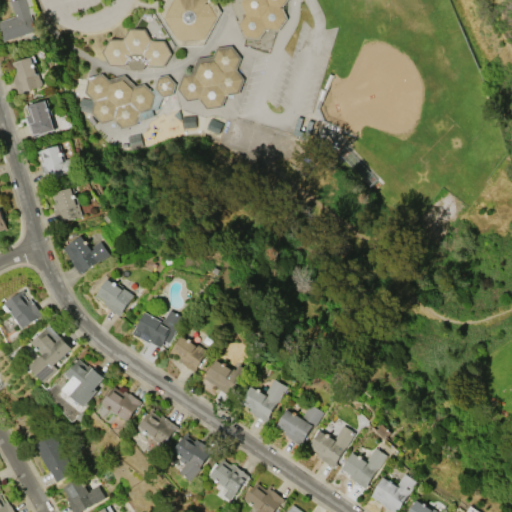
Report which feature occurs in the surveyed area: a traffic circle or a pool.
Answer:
pool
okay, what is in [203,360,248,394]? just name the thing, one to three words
house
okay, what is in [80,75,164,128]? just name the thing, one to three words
building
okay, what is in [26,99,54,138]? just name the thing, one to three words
house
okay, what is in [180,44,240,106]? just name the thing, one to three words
building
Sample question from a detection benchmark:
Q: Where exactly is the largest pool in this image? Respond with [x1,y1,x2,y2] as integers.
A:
[163,278,192,312]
